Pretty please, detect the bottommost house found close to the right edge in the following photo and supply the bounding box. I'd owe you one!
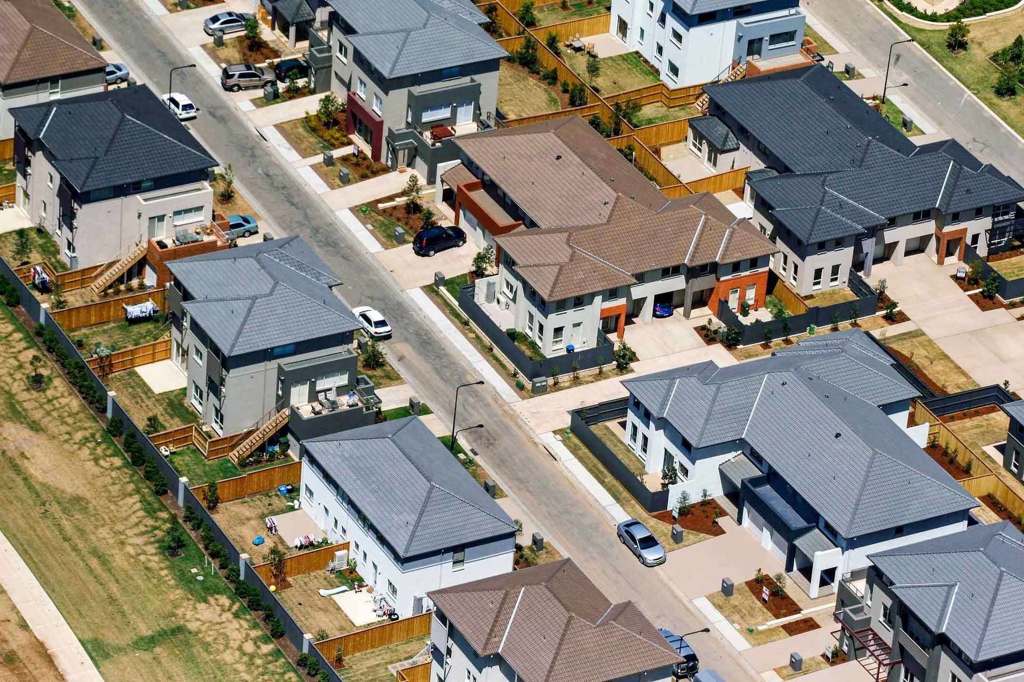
[824,518,1024,682]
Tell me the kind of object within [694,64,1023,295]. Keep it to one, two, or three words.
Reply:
house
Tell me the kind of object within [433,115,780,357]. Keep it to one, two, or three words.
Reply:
house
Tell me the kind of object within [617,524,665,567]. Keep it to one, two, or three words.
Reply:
car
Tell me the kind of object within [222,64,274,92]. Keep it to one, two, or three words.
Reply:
car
